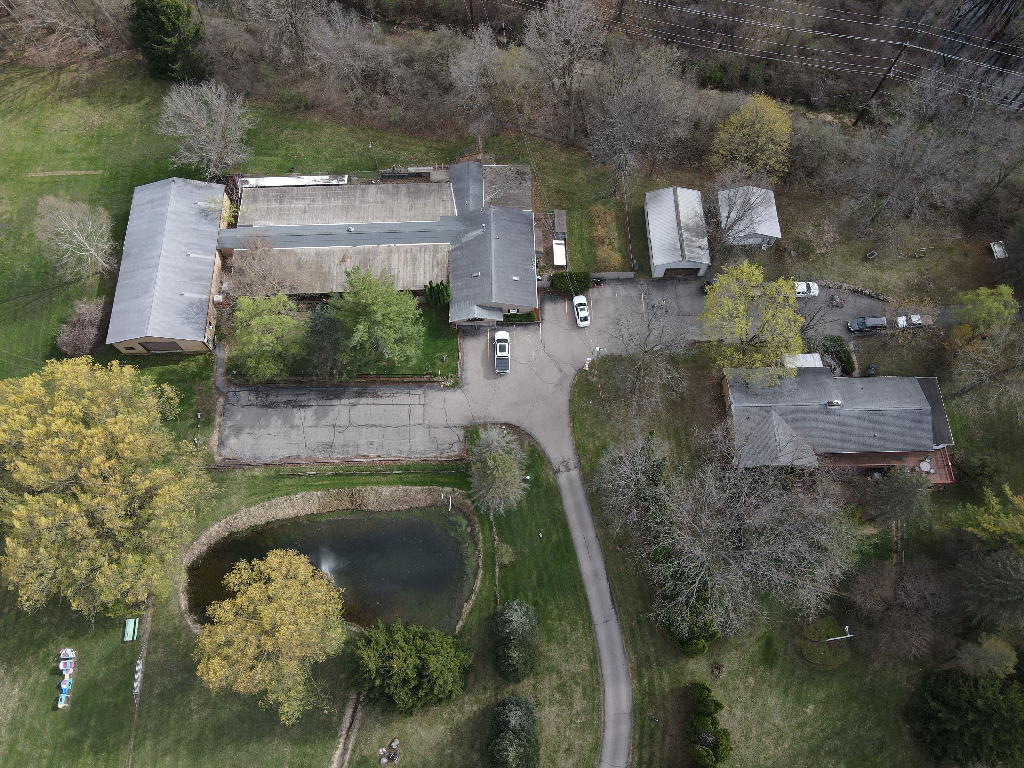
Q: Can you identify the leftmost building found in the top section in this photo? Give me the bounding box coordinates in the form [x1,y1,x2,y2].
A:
[106,177,230,353]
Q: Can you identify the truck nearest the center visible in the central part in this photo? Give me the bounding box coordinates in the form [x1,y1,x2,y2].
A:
[492,331,513,377]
